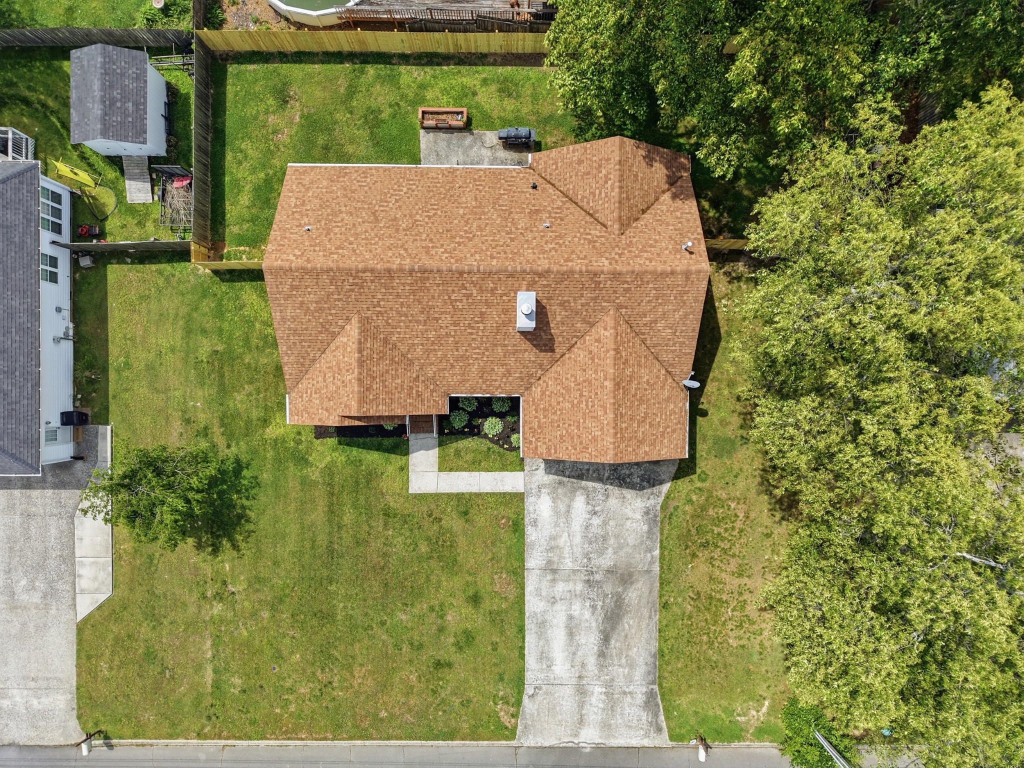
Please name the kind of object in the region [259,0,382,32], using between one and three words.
swimming pool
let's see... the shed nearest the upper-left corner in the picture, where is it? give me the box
[69,42,167,155]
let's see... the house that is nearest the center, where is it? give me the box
[264,137,710,464]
